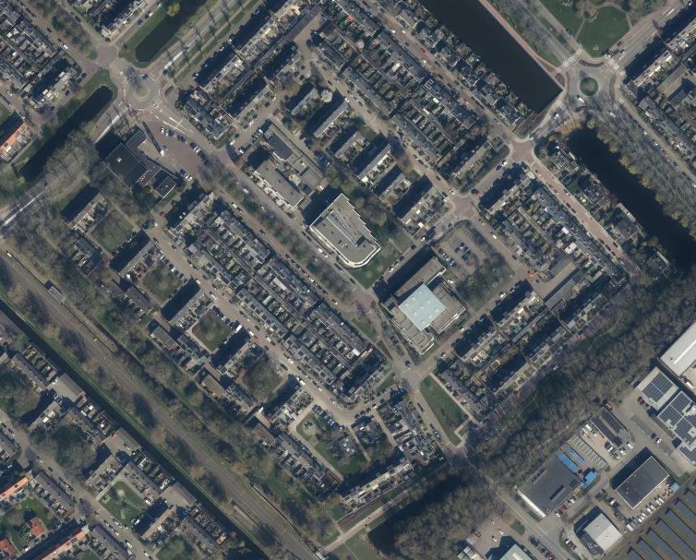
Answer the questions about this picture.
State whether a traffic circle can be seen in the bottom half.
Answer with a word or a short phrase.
No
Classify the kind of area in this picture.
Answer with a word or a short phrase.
residential area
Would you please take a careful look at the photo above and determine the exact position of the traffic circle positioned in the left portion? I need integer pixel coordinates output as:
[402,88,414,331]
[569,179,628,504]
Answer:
[120,70,162,112]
